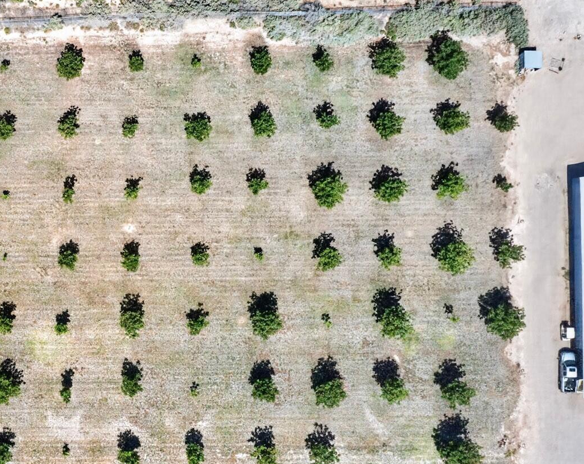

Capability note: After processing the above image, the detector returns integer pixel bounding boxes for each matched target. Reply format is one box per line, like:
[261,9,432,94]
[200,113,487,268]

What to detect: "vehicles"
[557,349,579,394]
[559,321,576,340]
